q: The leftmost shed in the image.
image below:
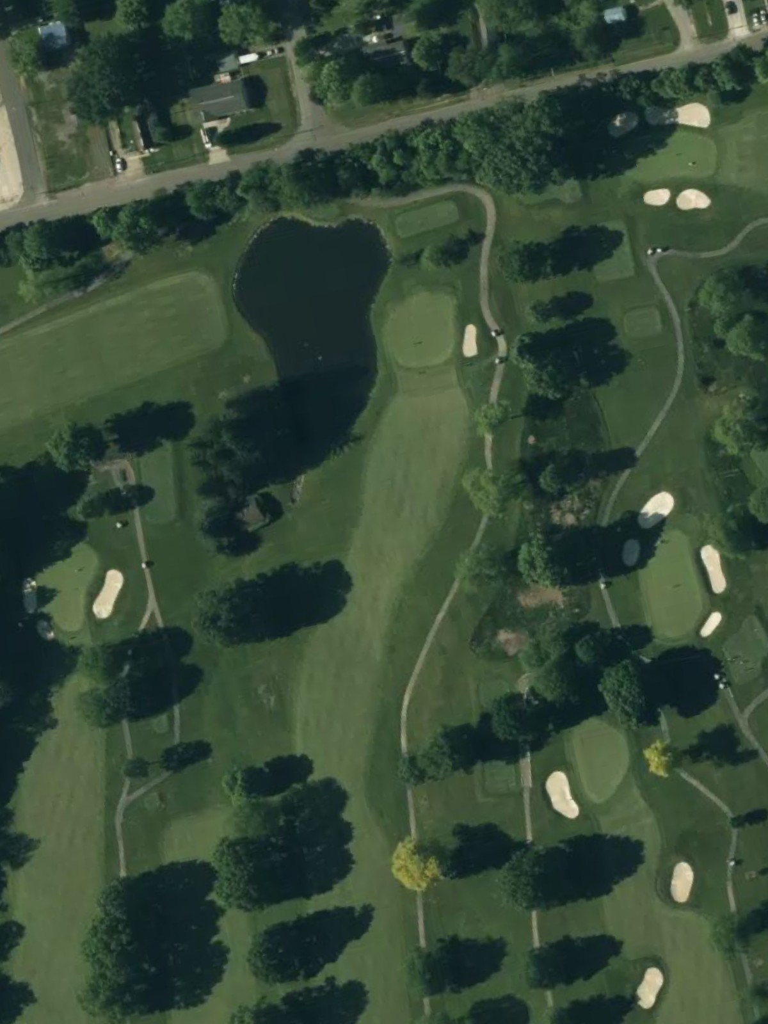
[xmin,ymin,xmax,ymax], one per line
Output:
[39,25,67,50]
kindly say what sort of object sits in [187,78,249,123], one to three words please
house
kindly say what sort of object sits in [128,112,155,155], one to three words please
house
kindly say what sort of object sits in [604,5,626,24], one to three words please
shed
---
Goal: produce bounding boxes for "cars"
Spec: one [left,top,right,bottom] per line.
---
[760,10,766,22]
[752,14,758,26]
[728,1,735,14]
[116,158,122,170]
[267,48,279,55]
